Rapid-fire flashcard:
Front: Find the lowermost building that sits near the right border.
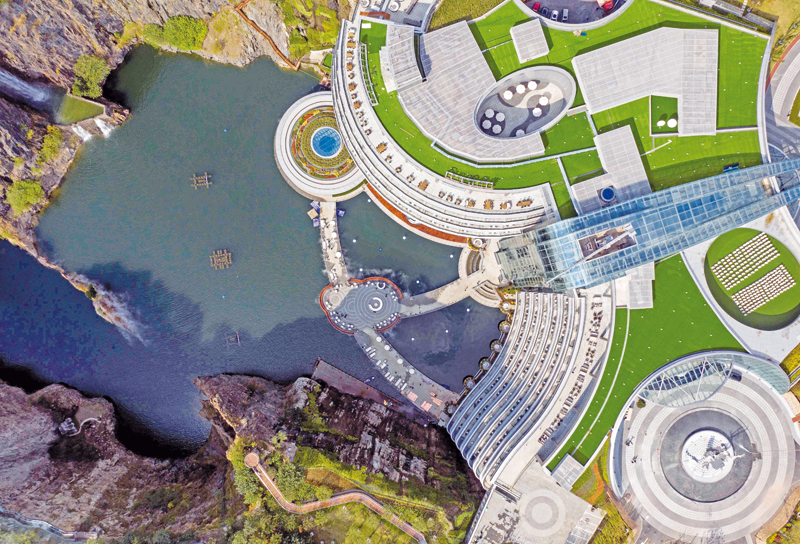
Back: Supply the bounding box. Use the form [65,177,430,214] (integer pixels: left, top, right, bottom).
[603,349,795,500]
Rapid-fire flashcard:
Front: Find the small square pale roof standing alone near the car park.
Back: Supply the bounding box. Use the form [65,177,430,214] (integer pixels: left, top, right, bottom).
[508,18,549,67]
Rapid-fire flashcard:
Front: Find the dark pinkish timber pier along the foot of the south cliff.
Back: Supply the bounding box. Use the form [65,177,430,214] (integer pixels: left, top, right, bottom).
[312,360,448,431]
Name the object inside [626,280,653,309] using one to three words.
building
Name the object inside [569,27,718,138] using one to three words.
building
